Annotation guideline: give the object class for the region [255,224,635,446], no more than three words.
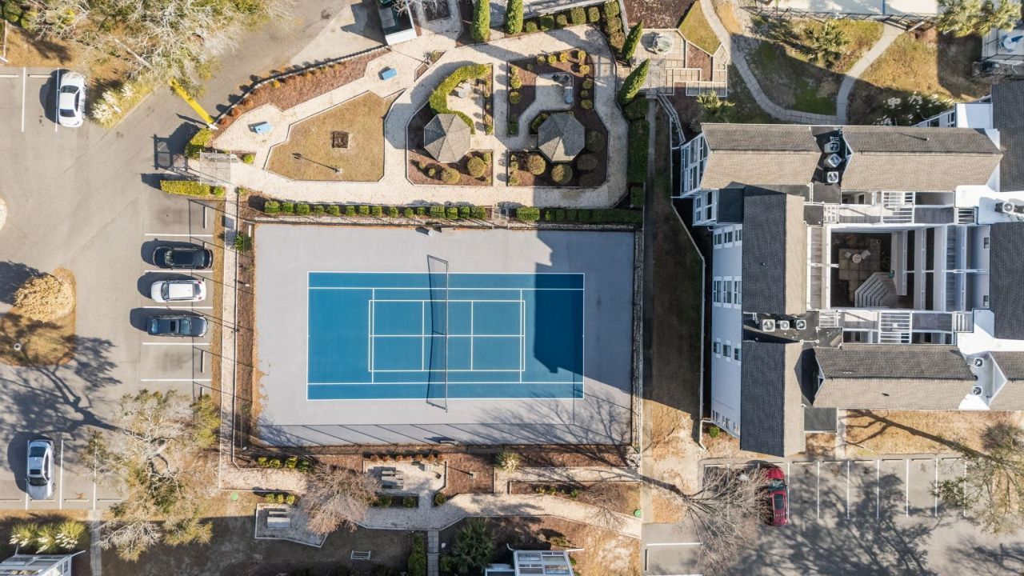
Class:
tennis court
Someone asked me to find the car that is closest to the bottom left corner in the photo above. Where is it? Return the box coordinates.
[25,440,56,498]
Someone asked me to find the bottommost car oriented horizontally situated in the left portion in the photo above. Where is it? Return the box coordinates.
[147,312,208,338]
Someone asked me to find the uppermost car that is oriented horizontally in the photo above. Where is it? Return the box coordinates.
[154,243,214,270]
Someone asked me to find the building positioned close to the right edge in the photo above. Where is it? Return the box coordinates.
[682,76,1024,462]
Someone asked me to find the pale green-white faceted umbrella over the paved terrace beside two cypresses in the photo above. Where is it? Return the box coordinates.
[657,30,678,50]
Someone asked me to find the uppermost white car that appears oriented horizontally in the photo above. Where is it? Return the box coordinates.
[152,278,206,303]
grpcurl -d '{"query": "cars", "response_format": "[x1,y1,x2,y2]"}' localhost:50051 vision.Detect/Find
[154,243,214,270]
[147,312,208,338]
[761,466,789,525]
[25,440,56,498]
[57,71,87,128]
[152,278,206,303]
